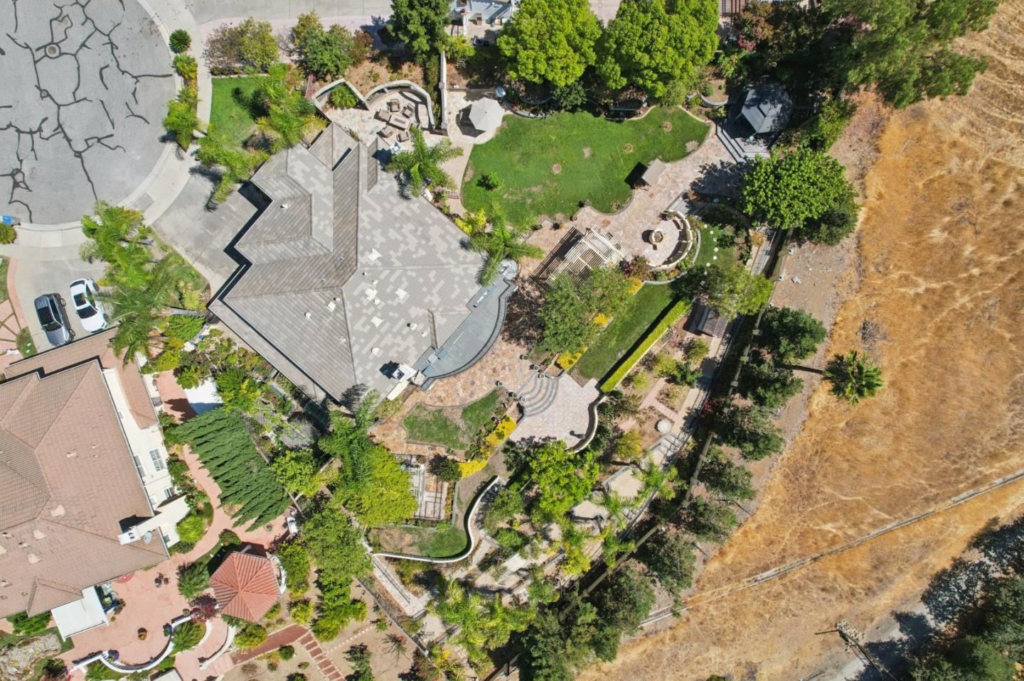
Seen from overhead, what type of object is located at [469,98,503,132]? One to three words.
umbrella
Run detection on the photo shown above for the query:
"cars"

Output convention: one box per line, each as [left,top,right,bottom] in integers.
[69,278,107,335]
[32,292,73,348]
